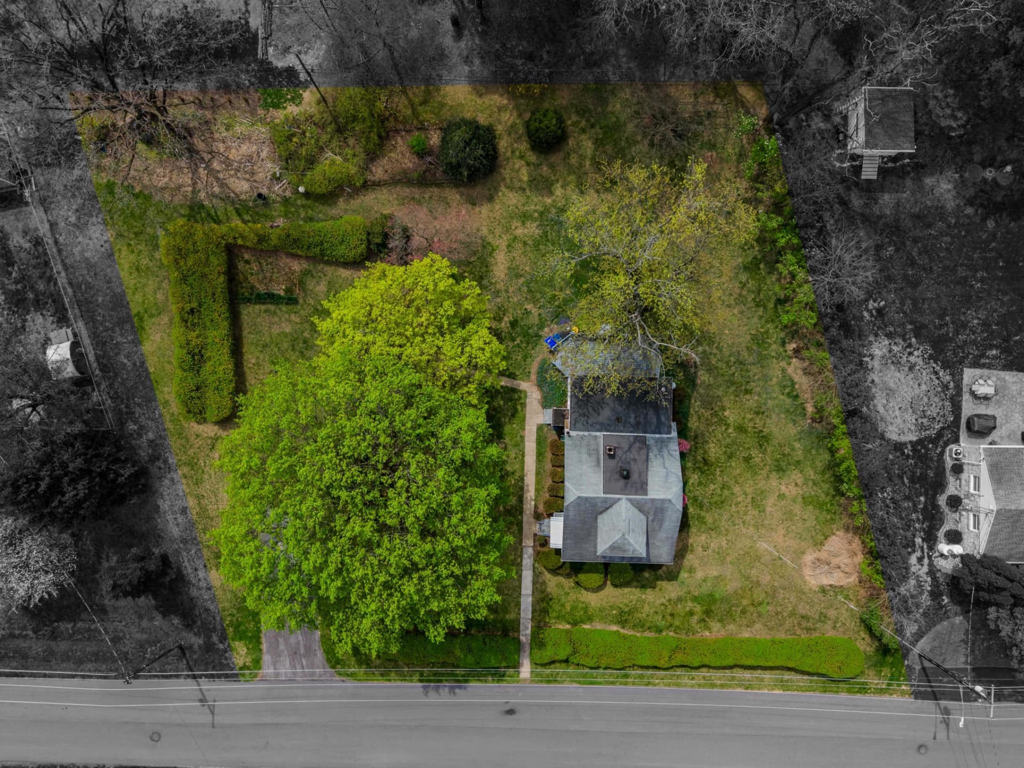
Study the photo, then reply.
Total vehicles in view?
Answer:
0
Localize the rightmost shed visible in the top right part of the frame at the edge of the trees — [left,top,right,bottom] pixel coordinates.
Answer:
[851,87,917,158]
